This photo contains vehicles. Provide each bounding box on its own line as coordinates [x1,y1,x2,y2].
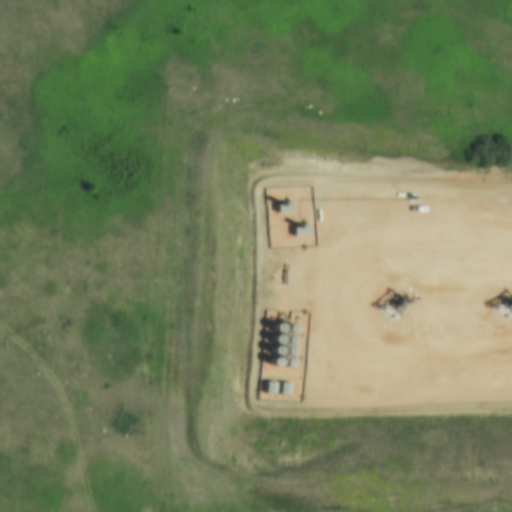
[398,191,421,202]
[412,206,430,214]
